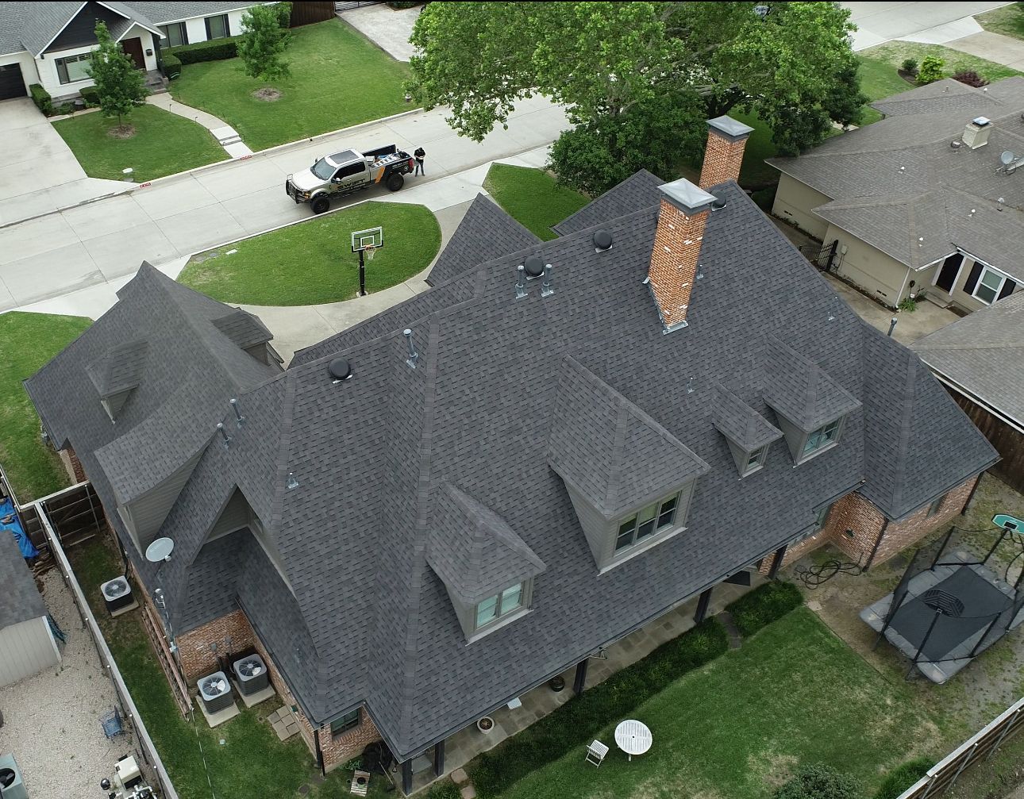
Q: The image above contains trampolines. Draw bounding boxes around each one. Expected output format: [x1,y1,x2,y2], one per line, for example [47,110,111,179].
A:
[859,523,1024,687]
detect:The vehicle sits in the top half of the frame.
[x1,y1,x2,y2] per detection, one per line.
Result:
[277,143,413,210]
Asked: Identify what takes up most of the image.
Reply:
buildings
